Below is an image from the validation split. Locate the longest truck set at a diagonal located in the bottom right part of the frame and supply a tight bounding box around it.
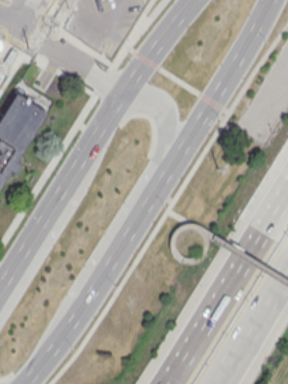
[208,294,232,329]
